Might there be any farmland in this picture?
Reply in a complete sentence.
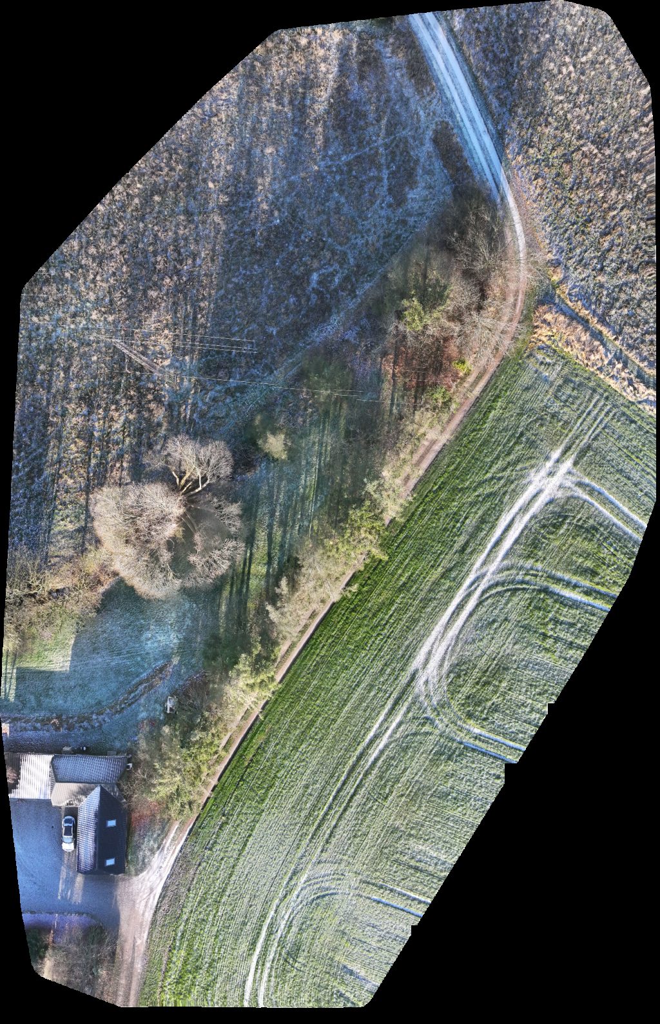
Yes, farmland shows up in the scene.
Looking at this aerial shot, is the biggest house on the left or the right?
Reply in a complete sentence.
The biggest house is on the left side of the image.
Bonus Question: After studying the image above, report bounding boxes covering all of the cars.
[59,814,77,851]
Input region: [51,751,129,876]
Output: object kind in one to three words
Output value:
house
